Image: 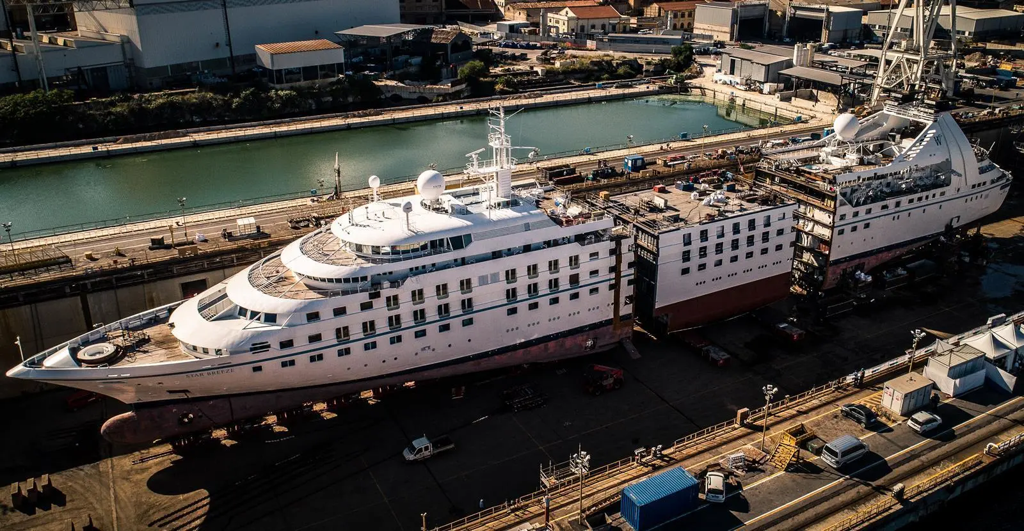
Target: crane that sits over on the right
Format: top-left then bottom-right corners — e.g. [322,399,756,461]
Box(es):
[874,0,959,99]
